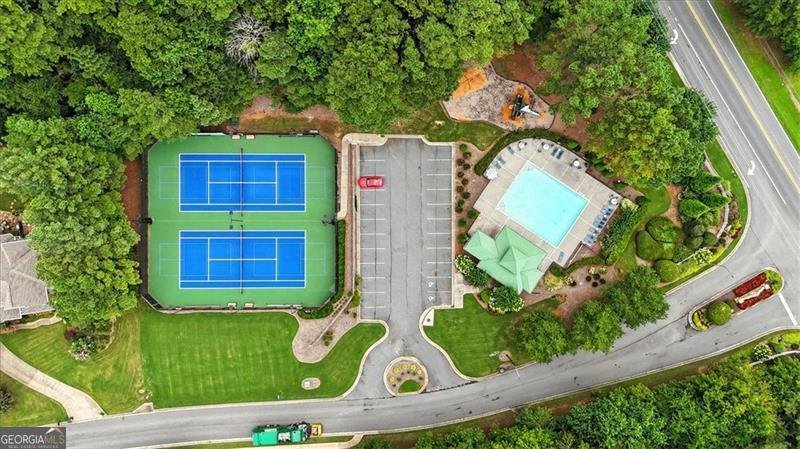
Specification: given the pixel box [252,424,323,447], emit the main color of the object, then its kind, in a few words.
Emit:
green truck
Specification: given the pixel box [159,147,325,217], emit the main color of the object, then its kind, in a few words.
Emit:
blue tennis court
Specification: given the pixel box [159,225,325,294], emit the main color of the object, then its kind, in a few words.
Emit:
blue tennis court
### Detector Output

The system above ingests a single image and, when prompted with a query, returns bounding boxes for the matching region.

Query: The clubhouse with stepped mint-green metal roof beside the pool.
[463,226,547,294]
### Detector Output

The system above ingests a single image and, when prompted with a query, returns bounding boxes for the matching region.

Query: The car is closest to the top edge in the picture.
[358,175,384,188]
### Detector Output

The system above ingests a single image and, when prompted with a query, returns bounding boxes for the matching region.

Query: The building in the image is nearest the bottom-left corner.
[0,233,56,322]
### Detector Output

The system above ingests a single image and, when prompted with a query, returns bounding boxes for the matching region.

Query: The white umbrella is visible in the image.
[487,166,500,179]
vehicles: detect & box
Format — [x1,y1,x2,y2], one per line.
[358,175,384,188]
[252,424,323,447]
